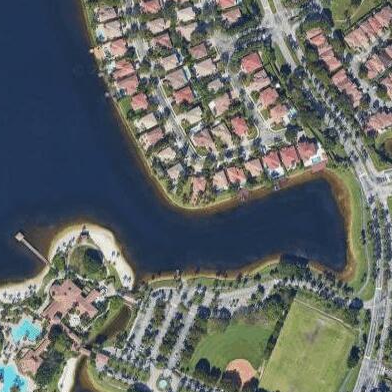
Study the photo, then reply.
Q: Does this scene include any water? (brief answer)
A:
Yes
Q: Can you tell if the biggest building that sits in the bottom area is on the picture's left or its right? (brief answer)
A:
left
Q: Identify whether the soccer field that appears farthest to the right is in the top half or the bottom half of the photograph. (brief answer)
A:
bottom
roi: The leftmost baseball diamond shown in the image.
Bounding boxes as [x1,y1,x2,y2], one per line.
[194,320,277,392]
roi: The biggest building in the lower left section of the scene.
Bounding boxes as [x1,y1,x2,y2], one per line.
[34,276,102,351]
